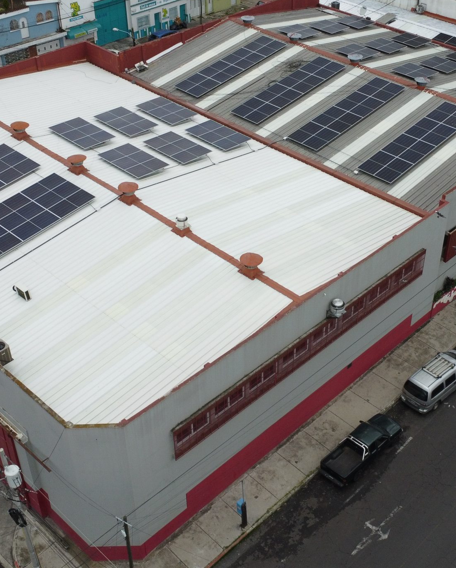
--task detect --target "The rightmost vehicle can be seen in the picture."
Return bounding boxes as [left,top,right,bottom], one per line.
[400,349,456,416]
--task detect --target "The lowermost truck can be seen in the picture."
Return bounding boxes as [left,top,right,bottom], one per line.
[315,411,406,495]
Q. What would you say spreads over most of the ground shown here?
buildings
